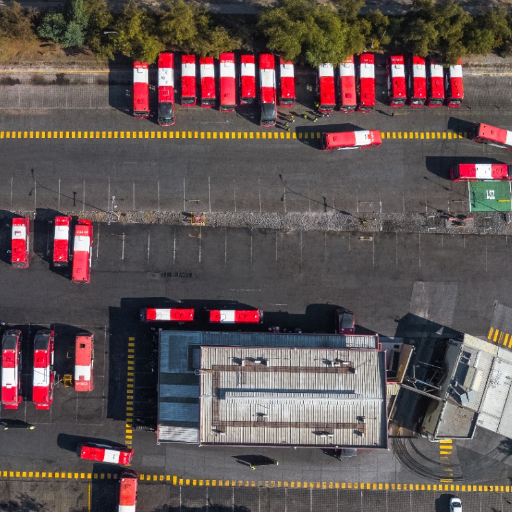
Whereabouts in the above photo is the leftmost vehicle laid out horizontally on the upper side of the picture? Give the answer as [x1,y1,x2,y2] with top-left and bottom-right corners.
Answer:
[319,131,381,150]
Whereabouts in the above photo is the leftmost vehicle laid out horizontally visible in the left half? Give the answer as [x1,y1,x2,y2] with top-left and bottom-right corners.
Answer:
[78,442,133,463]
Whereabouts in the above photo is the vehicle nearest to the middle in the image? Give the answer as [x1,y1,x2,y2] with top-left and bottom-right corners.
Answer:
[209,308,265,325]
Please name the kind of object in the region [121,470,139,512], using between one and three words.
vehicle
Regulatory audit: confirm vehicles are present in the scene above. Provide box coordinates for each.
[218,53,238,114]
[72,224,92,287]
[209,308,265,325]
[33,331,53,409]
[180,54,197,107]
[453,164,512,181]
[278,56,296,107]
[121,470,139,512]
[11,217,30,269]
[133,59,152,119]
[157,52,176,125]
[76,331,94,391]
[78,442,133,463]
[449,496,463,512]
[146,308,201,323]
[1,331,22,409]
[443,61,465,107]
[336,52,358,114]
[53,216,71,270]
[240,54,257,107]
[316,57,336,114]
[468,121,512,150]
[356,53,377,114]
[200,56,217,108]
[387,55,408,107]
[408,56,429,107]
[258,53,279,127]
[319,131,381,150]
[426,60,445,108]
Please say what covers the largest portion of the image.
paved ground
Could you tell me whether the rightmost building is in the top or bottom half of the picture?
bottom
